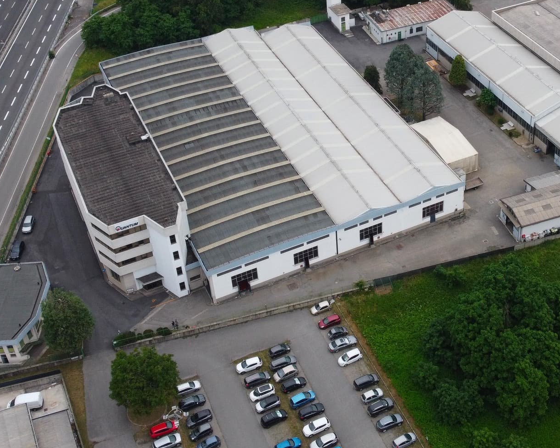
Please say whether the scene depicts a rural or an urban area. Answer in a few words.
urban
